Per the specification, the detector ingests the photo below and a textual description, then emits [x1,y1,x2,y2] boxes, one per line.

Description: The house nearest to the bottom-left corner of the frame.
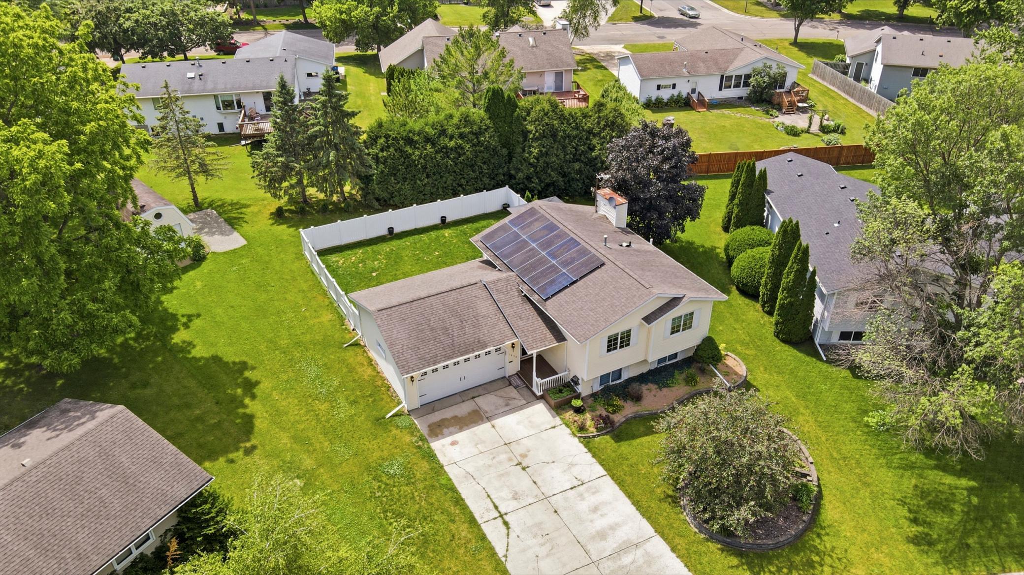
[0,400,214,575]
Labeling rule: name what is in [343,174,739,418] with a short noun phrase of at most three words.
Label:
house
